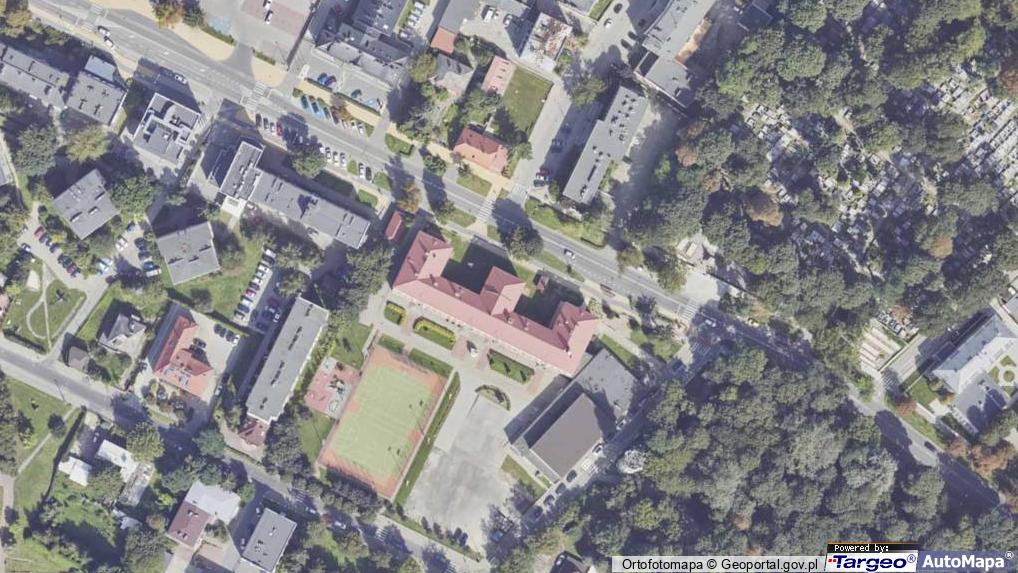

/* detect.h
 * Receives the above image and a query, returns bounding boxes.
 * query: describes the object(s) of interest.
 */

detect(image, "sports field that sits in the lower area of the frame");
[329,359,437,487]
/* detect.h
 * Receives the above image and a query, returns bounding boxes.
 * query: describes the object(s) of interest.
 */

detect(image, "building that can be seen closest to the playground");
[246,296,330,424]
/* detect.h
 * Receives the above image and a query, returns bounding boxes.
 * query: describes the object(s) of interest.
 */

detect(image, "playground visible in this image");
[305,357,361,418]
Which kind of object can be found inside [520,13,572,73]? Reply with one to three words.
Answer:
building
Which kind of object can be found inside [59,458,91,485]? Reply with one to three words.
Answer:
shed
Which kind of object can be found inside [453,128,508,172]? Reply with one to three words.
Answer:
house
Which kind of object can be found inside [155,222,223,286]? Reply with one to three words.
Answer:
building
